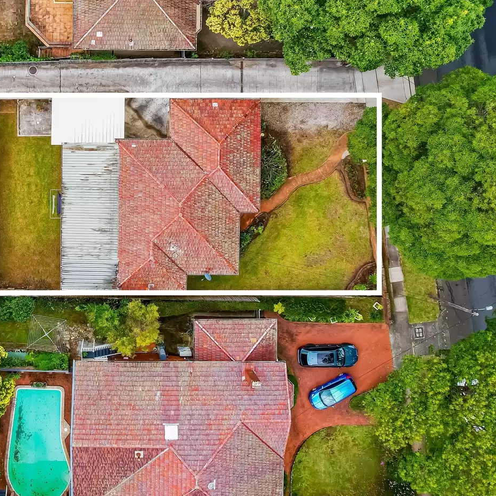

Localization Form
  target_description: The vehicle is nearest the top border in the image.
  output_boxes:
[296,341,356,371]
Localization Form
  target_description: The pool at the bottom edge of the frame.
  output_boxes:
[2,384,71,496]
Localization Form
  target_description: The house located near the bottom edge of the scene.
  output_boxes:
[71,355,295,496]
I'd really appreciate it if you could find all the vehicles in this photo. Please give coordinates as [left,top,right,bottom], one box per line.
[296,341,356,371]
[303,369,359,409]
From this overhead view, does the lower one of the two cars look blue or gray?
blue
